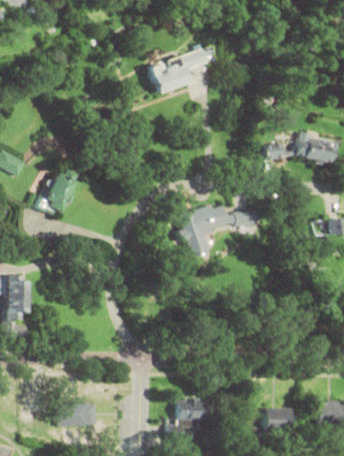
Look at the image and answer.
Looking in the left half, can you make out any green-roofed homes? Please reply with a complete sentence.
Yes, you'll find a green-roofed home in the left half.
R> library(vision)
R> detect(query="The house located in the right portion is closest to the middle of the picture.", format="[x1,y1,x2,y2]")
[178,207,256,260]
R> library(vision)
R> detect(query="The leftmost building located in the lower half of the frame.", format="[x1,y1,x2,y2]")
[0,275,31,331]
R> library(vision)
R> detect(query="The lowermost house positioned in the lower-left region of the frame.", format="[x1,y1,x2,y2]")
[55,402,97,429]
